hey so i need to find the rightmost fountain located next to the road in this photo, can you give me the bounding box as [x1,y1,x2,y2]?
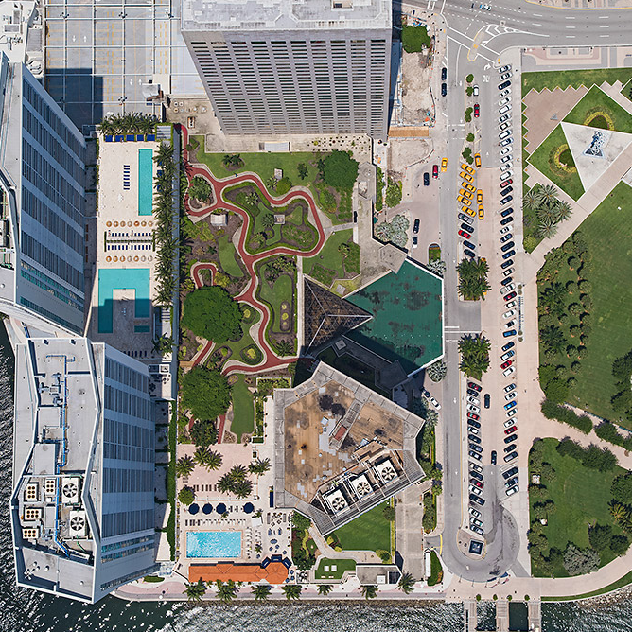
[469,538,486,555]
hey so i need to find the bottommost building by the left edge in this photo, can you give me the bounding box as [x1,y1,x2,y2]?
[9,337,155,602]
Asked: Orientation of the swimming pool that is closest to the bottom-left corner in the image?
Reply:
from left to right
